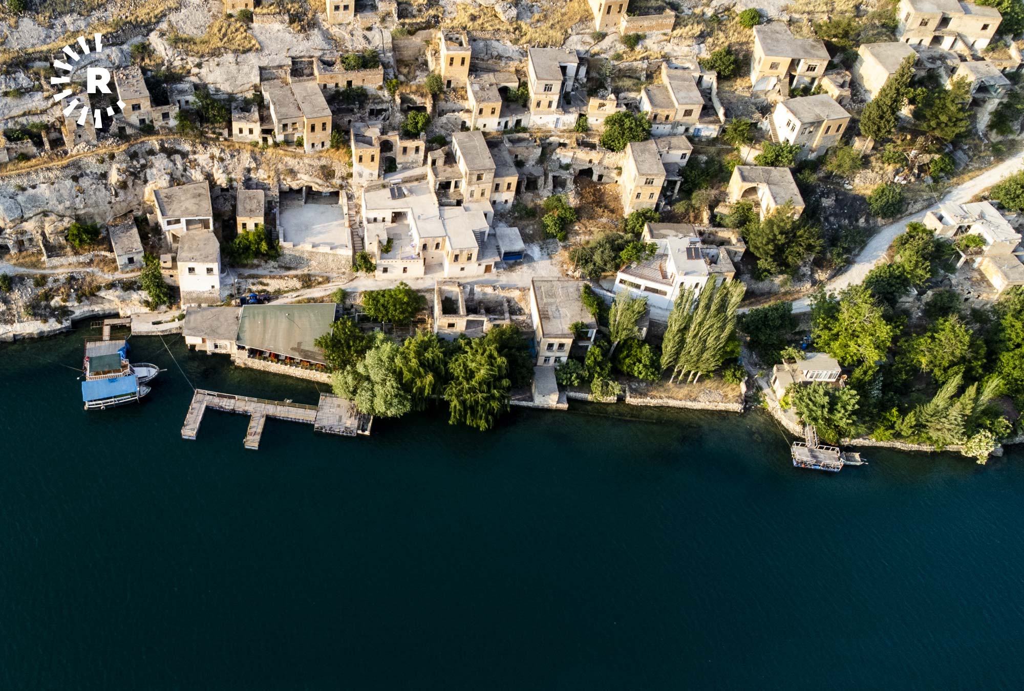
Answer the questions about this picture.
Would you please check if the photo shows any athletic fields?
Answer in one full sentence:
No, there isn't any athletic field down there.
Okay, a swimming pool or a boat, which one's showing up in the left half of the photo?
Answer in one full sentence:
Looking in the left half of the photo, you will find a boat.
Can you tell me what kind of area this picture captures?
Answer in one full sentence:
What you see here is a residential area.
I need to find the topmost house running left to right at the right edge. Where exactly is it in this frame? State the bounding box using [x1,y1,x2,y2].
[897,0,1004,50]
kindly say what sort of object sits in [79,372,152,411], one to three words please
boat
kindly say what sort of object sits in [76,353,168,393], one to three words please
boat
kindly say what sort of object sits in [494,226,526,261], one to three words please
shed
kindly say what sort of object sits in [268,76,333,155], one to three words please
house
